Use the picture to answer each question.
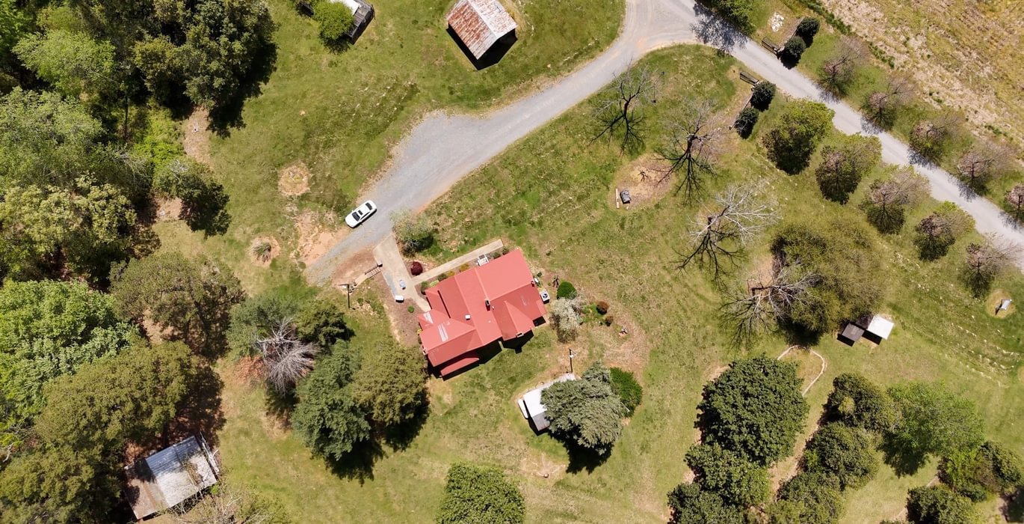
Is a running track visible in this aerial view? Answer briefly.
No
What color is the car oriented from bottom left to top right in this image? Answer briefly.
white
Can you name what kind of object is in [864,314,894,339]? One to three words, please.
shed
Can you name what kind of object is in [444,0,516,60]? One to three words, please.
barn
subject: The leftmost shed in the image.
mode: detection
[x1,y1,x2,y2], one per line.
[116,431,223,517]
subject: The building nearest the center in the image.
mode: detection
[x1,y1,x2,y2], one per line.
[417,247,553,376]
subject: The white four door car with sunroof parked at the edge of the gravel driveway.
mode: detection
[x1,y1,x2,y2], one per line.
[345,200,377,228]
